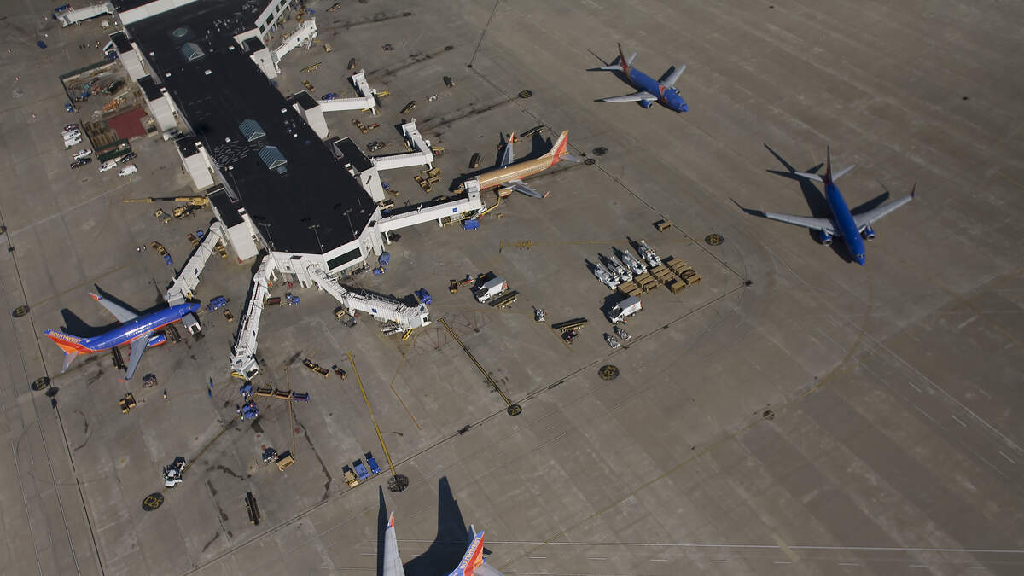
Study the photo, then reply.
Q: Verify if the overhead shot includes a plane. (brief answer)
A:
Yes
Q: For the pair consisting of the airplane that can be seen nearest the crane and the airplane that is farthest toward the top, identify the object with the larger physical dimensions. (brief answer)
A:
the airplane that can be seen nearest the crane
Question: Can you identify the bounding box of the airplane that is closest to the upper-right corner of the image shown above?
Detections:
[760,147,916,264]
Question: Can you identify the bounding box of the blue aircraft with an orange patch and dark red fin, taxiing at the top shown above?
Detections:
[601,43,688,114]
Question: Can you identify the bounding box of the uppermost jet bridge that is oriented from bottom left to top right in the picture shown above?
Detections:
[269,23,319,74]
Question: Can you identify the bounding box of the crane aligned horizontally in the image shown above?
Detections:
[124,194,212,213]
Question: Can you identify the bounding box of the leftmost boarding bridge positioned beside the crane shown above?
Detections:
[175,221,228,303]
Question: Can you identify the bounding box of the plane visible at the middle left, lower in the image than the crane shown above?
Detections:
[46,291,200,381]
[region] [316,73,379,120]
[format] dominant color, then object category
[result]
white jet bridge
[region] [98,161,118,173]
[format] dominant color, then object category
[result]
white vehicle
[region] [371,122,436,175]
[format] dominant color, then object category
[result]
white jet bridge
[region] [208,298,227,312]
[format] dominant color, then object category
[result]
blue work vehicle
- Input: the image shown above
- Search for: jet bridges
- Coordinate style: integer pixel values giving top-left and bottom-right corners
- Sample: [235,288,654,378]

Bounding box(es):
[237,253,277,377]
[316,73,379,120]
[56,7,118,34]
[371,122,436,175]
[303,263,429,337]
[377,181,484,244]
[175,221,228,303]
[269,23,319,74]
